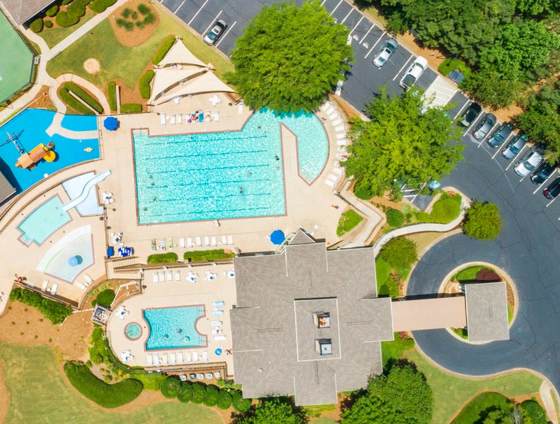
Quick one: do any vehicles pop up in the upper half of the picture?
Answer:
Yes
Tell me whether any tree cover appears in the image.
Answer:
Yes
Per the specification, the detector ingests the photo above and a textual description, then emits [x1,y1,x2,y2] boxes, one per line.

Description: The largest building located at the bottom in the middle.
[228,228,396,407]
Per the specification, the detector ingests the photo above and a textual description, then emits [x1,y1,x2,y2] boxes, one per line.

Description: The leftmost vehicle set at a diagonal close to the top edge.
[203,18,229,46]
